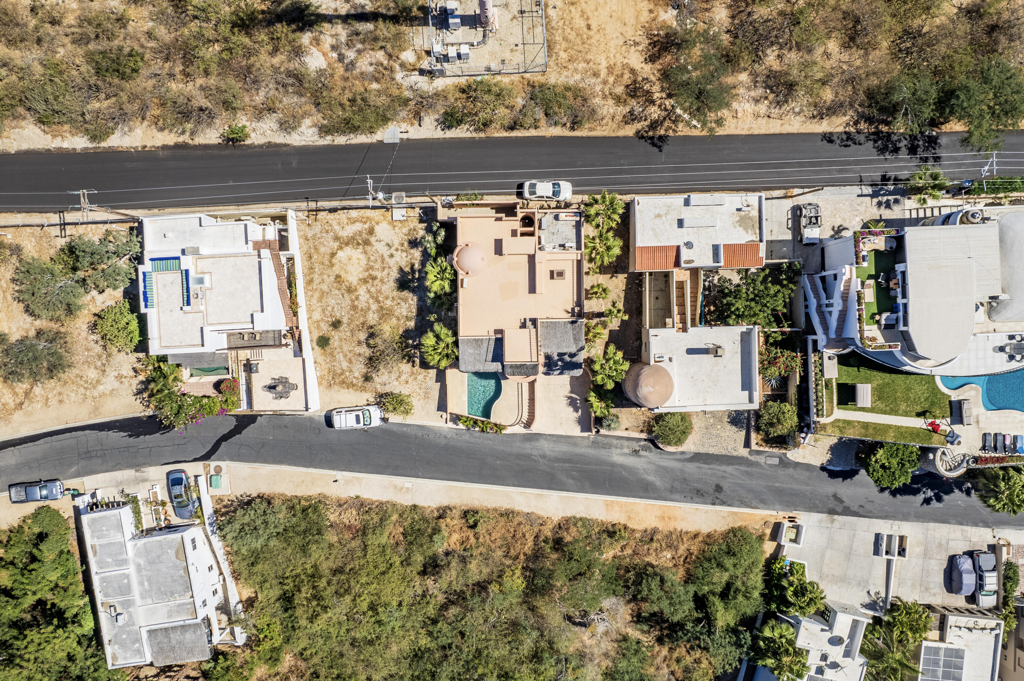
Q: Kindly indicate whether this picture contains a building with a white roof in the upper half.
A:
Yes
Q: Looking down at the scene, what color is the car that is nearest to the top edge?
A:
white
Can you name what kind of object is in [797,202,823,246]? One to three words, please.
car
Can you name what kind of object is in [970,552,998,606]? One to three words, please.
car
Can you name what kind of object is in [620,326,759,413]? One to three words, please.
house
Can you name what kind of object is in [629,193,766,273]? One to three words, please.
house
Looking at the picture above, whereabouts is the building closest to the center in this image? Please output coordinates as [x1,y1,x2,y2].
[449,210,586,383]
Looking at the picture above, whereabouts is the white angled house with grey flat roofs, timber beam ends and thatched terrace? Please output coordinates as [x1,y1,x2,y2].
[73,484,243,670]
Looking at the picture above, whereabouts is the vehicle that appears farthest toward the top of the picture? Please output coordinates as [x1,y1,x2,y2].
[524,179,571,201]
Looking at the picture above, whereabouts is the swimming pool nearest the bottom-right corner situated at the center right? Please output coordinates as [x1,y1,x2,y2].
[936,366,1024,416]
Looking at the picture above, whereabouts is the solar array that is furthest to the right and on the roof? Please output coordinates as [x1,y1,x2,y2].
[913,644,963,681]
